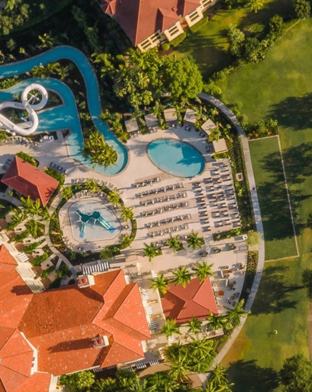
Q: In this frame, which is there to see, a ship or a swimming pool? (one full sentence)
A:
Looking from above, you can make out a swimming pool.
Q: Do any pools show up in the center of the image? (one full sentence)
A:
Yes, a pool is visible in the center of the image.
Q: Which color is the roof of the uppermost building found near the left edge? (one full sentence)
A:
From above, the roof of the uppermost building found near the left edge looks red.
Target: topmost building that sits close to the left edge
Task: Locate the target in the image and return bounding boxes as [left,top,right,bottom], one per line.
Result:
[1,155,62,206]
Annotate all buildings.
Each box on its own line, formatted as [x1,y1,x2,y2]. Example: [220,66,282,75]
[100,0,224,54]
[0,209,159,392]
[1,155,62,206]
[166,275,219,323]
